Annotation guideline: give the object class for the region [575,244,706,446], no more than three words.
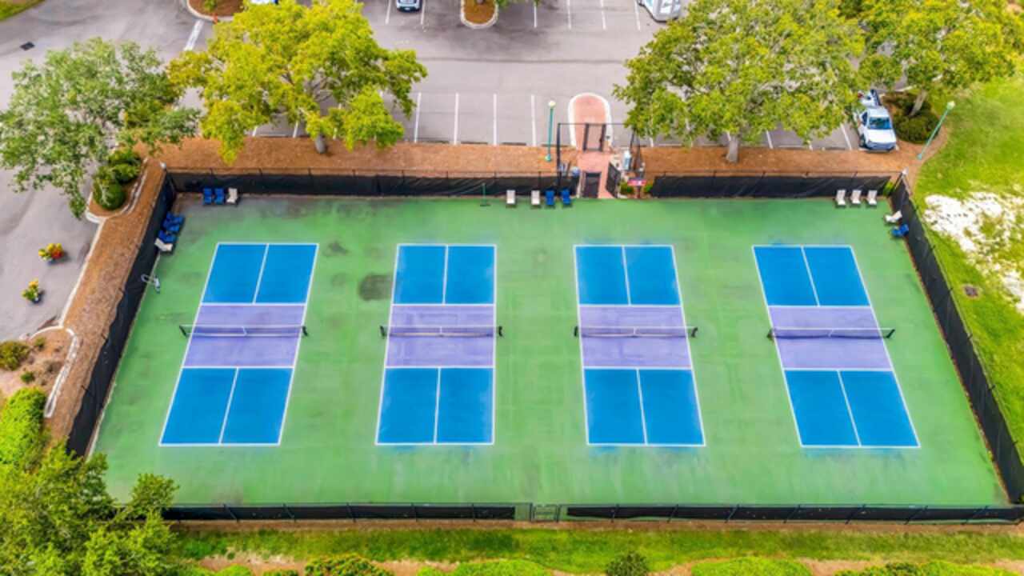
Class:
sports court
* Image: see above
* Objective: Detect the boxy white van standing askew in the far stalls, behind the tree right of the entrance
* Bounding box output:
[633,0,679,23]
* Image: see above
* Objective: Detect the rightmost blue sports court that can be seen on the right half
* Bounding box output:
[753,245,918,446]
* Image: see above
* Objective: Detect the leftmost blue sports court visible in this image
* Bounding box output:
[159,242,317,444]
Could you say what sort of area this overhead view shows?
sports ground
